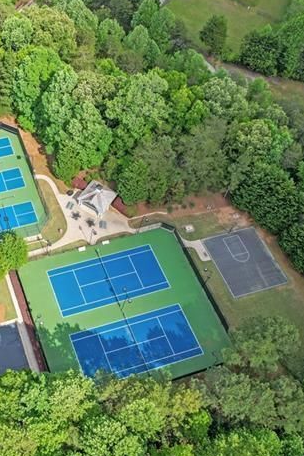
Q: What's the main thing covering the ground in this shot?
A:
trees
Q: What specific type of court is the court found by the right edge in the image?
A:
basketball court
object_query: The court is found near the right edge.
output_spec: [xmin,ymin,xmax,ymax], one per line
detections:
[203,227,292,299]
